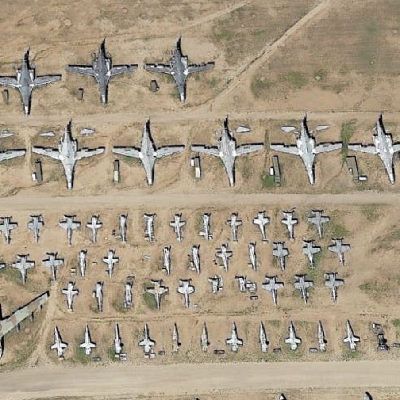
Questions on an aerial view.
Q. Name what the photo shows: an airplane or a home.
airplane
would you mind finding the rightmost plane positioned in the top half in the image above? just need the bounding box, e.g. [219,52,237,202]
[351,113,400,184]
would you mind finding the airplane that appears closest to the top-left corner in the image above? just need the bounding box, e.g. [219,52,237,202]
[0,47,64,116]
